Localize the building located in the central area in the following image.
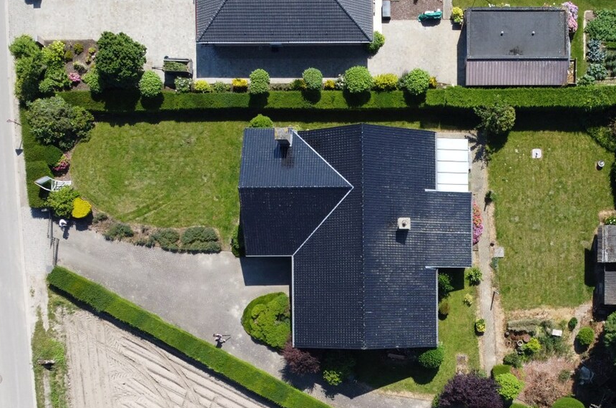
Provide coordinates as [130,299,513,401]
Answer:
[238,123,473,350]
